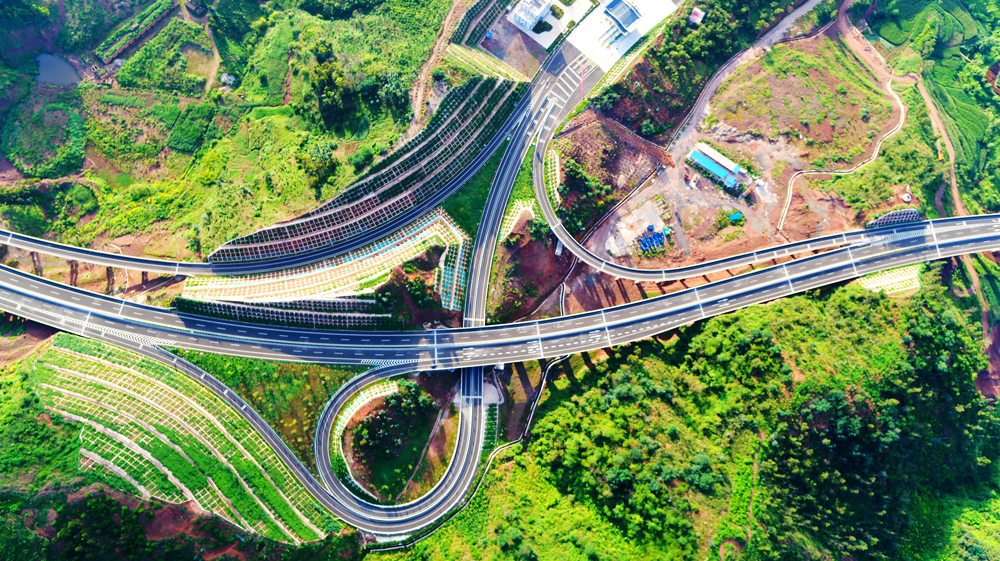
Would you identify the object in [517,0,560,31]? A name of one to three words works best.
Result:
building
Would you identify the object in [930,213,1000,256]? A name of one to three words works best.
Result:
bridge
